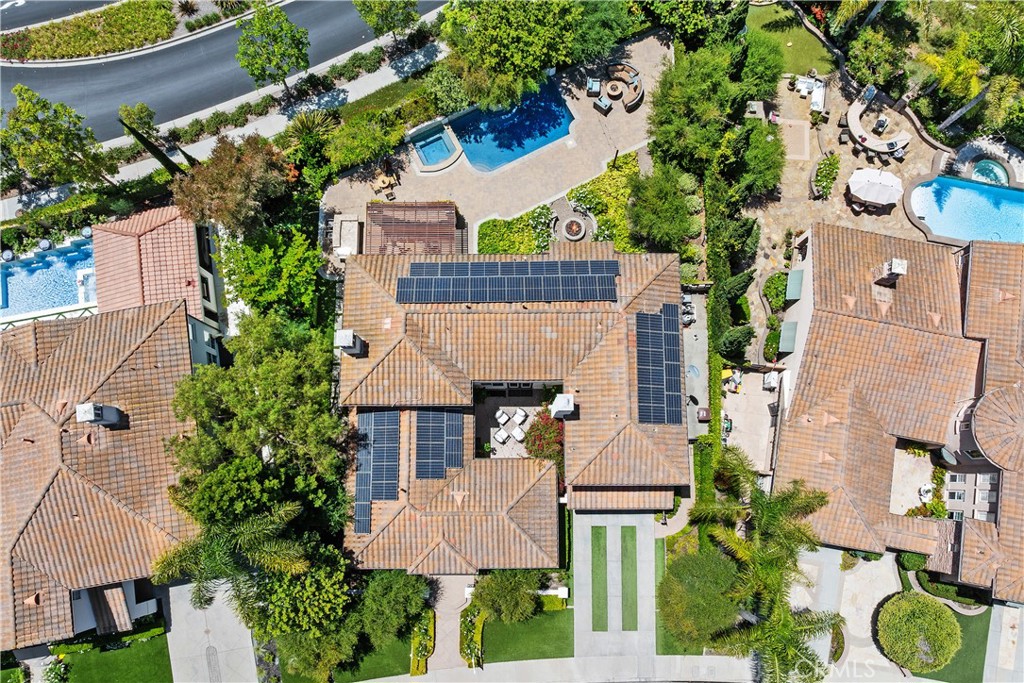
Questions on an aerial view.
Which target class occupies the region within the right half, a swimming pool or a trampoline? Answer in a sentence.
What appears within the right half is a swimming pool.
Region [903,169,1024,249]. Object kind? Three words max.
swimming pool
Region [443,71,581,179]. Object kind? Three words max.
swimming pool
